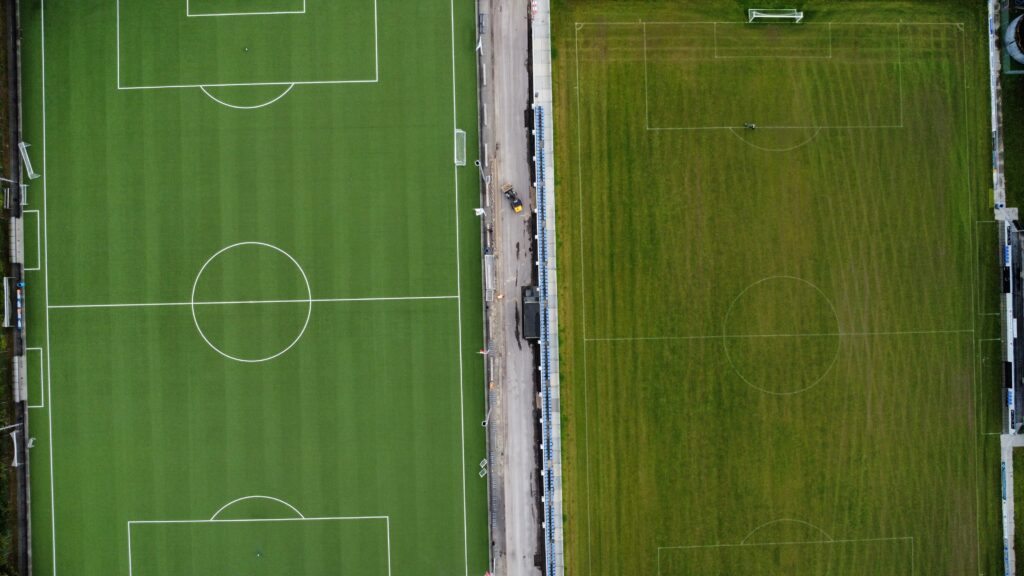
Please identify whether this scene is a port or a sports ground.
sports ground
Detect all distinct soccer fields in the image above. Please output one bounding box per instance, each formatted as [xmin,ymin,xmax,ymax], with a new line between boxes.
[549,0,1019,576]
[19,0,489,576]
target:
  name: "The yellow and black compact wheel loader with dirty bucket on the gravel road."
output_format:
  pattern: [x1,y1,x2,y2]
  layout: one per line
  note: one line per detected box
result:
[500,181,523,214]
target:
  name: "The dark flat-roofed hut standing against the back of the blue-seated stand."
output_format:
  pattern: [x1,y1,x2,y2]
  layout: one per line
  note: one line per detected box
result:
[521,286,540,339]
